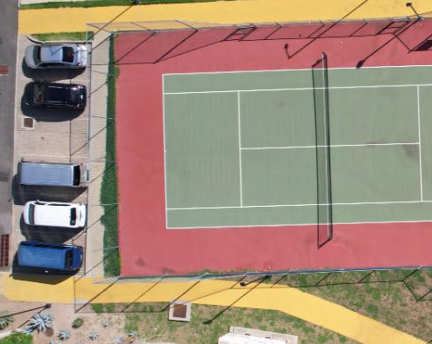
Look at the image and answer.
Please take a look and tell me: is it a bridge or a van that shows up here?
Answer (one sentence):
I can see a van in this picture.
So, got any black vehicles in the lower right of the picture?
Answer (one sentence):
No, looking in the lower right of the picture, there is no black vehicle.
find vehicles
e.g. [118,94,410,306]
[17,160,91,190]
[17,242,88,273]
[24,199,88,230]
[23,40,88,71]
[21,78,87,111]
